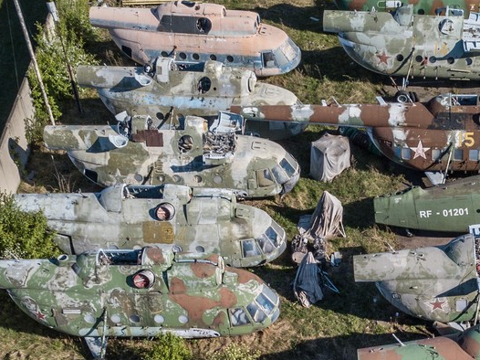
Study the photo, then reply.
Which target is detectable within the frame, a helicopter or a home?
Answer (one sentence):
Of the two, only a helicopter appears.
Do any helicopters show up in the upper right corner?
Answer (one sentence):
Yes, I can see a helicopter in the upper right corner.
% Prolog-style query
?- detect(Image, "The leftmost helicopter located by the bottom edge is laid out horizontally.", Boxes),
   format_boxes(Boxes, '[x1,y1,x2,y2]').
[0,241,281,360]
